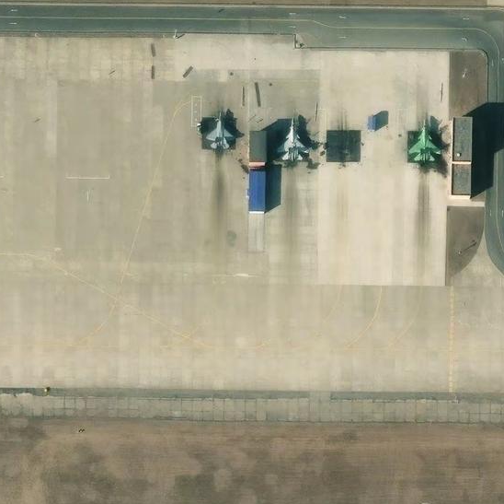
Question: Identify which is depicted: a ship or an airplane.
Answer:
airplane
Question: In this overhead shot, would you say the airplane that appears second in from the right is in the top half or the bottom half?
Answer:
top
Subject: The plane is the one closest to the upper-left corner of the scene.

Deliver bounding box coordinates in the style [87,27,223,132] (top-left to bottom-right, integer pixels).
[205,110,235,152]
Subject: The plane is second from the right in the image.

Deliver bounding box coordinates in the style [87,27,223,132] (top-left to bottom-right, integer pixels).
[278,119,310,161]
